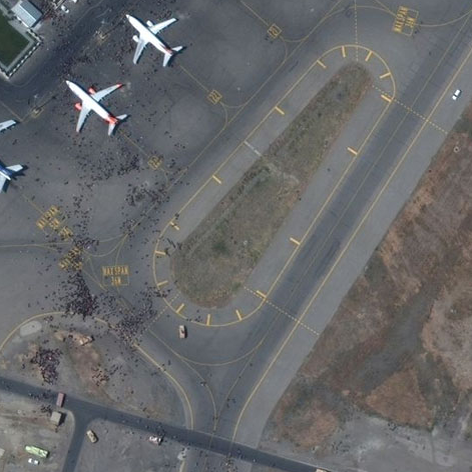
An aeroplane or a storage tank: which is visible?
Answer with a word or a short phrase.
aeroplane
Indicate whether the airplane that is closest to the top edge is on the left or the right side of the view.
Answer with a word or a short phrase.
left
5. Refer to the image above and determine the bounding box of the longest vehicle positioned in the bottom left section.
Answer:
[25,444,49,458]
